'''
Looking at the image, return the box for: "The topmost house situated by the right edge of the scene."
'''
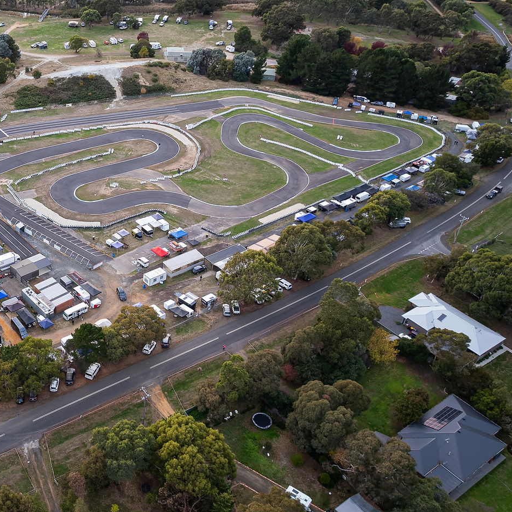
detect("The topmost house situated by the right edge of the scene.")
[401,292,506,362]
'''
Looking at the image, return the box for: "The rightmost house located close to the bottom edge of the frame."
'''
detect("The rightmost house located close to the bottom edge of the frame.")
[398,393,508,501]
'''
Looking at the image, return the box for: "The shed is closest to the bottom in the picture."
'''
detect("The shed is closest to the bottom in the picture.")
[336,493,383,512]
